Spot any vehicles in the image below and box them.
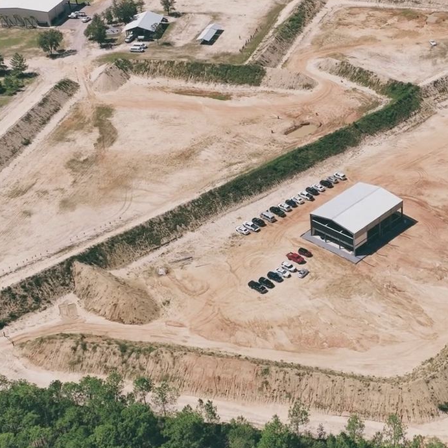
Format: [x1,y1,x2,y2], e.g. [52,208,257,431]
[294,267,313,280]
[285,251,308,264]
[70,13,82,18]
[269,205,288,217]
[325,177,341,185]
[247,280,270,294]
[235,226,252,236]
[304,186,321,195]
[284,199,300,209]
[319,179,335,188]
[290,196,307,204]
[133,43,147,49]
[258,276,276,288]
[279,259,299,272]
[275,267,293,278]
[429,40,439,46]
[277,202,293,212]
[298,190,317,201]
[130,47,145,54]
[333,171,349,180]
[242,220,262,233]
[266,271,285,283]
[312,184,328,192]
[296,245,315,258]
[259,209,278,222]
[251,217,268,227]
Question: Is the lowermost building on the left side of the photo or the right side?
right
